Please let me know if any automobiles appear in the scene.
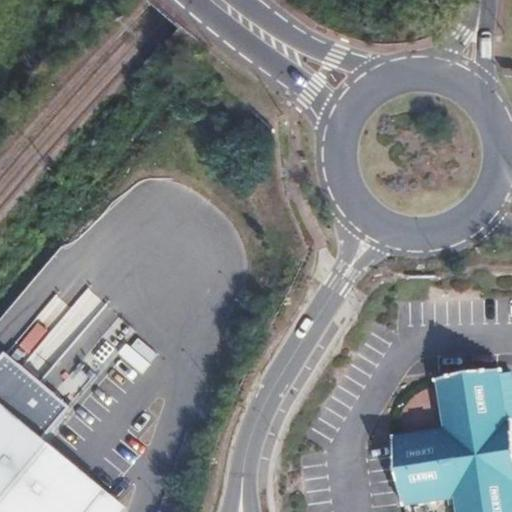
Yes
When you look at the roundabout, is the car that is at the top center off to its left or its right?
left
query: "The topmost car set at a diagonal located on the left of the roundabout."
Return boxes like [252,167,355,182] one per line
[285,66,306,86]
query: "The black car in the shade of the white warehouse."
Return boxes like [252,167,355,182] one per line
[92,468,114,486]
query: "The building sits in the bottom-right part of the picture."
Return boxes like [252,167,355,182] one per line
[389,366,512,512]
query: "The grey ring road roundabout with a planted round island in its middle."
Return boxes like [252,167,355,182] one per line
[315,50,512,260]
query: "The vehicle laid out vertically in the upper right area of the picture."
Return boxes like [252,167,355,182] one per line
[480,32,492,60]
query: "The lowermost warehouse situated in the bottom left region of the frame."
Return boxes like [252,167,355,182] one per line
[0,398,132,512]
